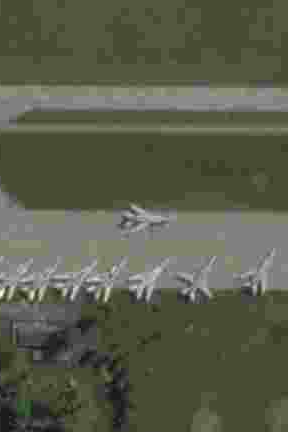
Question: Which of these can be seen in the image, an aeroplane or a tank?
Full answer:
It is an aeroplane that can be seen here.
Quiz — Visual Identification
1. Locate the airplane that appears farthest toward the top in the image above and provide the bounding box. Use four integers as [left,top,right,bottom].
[121,201,169,233]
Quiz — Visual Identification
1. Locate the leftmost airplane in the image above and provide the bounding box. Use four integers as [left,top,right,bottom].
[0,258,31,300]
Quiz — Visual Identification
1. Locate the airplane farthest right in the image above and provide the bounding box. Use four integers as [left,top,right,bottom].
[235,251,273,295]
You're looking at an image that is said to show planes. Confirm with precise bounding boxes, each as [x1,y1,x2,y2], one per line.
[235,251,273,295]
[87,258,126,301]
[19,258,58,301]
[177,257,216,301]
[128,259,168,300]
[0,258,31,300]
[121,201,169,233]
[56,258,96,299]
